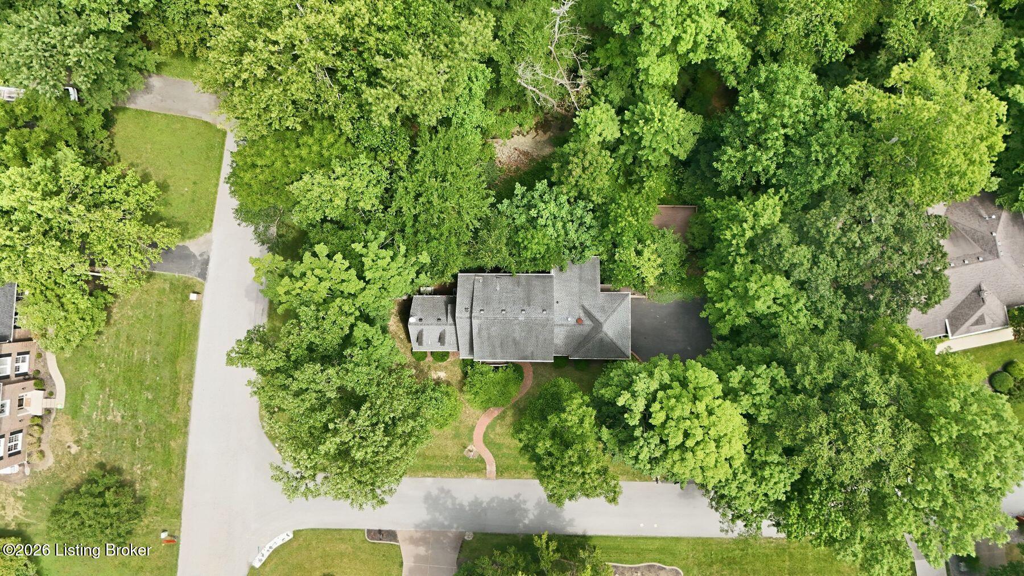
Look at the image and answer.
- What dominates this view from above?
trees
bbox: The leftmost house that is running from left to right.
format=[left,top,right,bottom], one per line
[408,256,631,366]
